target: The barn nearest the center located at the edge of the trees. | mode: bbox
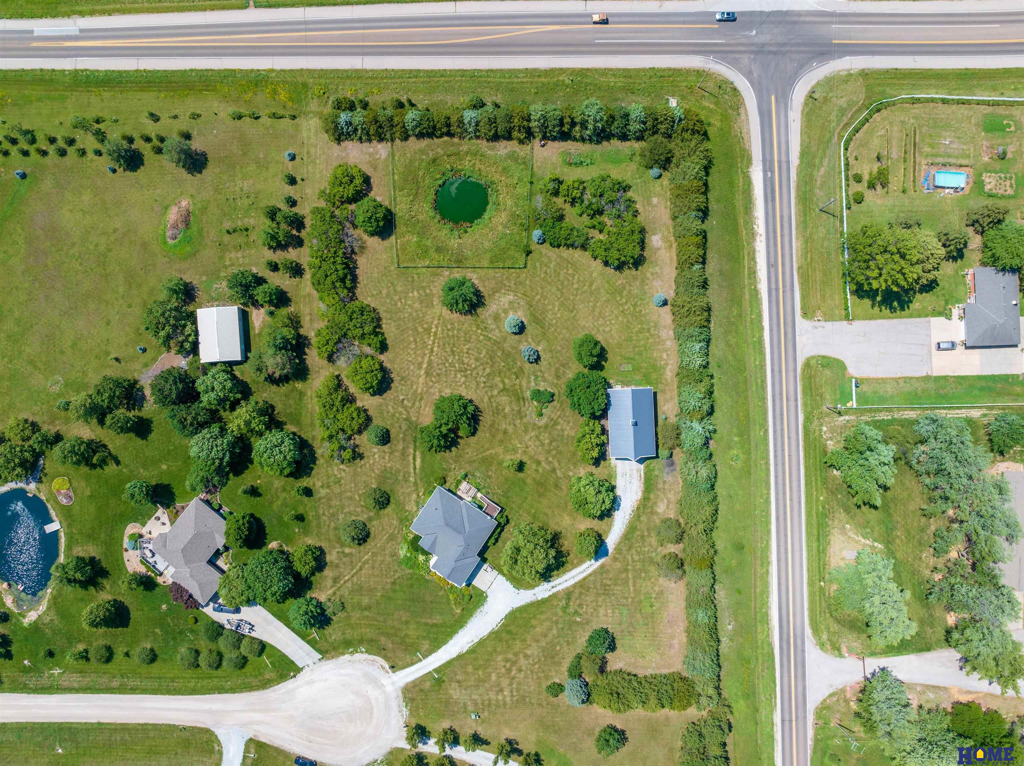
[607,388,656,462]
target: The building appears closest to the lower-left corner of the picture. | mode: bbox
[152,497,227,606]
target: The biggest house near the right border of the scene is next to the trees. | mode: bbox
[960,267,1021,347]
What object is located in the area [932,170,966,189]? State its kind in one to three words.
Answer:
swimming pool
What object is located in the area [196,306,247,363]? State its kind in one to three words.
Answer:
shed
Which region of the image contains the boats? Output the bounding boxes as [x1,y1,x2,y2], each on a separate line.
[226,621,251,636]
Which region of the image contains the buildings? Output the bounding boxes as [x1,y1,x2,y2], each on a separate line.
[196,306,247,363]
[960,267,1021,347]
[409,486,498,589]
[152,497,227,606]
[607,388,656,462]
